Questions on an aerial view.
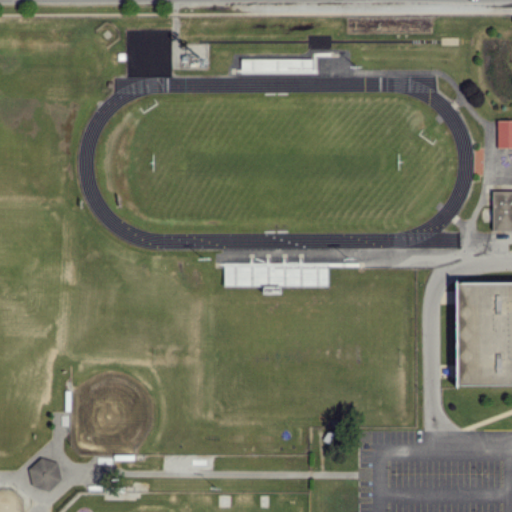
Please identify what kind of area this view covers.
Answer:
sports ground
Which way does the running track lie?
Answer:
from side to side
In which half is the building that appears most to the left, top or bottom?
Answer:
bottom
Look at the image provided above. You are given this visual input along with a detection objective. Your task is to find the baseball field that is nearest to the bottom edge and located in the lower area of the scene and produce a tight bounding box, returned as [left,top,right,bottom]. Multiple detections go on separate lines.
[72,364,200,455]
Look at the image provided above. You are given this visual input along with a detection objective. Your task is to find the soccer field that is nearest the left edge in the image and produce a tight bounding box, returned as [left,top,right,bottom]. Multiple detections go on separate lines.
[0,202,60,438]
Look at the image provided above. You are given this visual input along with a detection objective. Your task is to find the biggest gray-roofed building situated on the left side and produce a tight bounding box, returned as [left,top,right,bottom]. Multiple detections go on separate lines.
[28,457,61,491]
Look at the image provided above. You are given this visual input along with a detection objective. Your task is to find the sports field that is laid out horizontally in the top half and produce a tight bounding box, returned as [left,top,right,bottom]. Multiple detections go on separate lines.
[94,92,458,234]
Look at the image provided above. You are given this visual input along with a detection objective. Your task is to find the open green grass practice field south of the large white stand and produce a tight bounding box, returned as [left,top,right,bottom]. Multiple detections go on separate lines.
[206,298,414,426]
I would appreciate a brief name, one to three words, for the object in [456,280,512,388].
building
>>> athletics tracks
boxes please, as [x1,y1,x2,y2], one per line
[78,76,473,250]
